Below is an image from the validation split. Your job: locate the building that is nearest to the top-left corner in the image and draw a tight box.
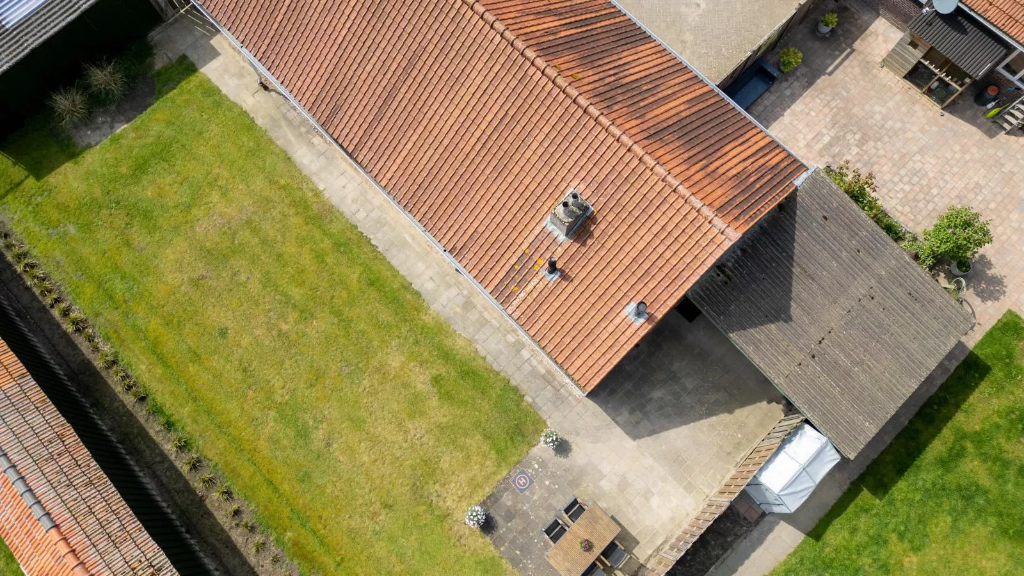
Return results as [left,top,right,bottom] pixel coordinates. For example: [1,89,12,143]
[0,0,148,143]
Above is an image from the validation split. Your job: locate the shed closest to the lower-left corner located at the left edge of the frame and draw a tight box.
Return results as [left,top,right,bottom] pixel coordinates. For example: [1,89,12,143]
[0,297,210,576]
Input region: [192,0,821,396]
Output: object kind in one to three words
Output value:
house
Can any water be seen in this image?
No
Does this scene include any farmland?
No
